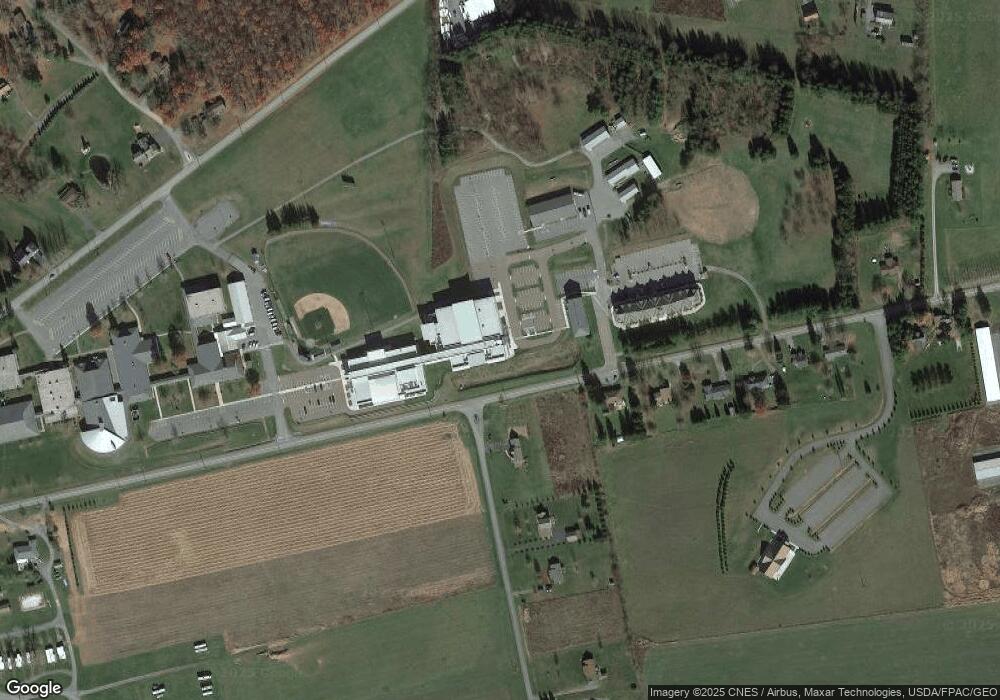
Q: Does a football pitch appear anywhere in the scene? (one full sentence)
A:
No, the picture doesn't show any football pitch.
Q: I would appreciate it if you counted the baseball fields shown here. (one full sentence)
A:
I count 1 baseball field.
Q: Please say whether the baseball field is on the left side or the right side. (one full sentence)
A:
It is on the left.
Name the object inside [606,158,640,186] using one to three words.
shed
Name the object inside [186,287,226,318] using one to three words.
building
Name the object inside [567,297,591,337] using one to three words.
house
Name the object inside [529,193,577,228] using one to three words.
building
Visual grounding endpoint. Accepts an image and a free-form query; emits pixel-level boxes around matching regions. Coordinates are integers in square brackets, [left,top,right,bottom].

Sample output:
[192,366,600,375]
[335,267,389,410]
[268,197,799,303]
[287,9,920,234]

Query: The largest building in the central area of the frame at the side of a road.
[348,296,506,408]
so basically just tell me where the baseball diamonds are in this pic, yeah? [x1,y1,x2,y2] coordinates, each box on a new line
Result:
[266,227,418,349]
